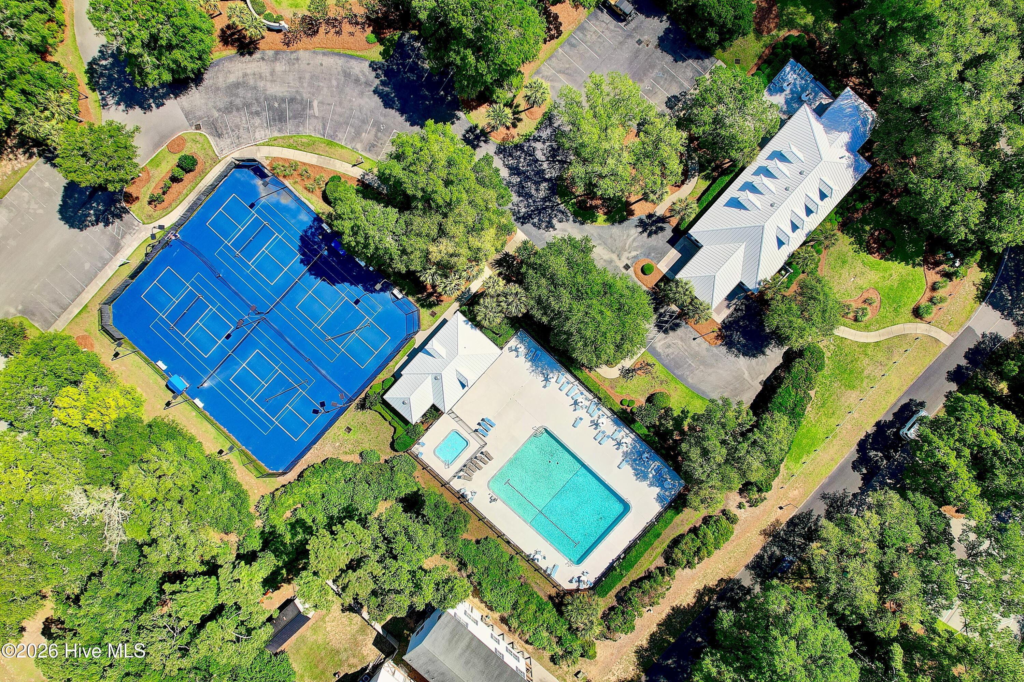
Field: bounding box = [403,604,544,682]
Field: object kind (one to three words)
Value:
house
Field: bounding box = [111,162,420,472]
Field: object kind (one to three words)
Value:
sports court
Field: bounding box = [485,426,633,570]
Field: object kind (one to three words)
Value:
swimming pool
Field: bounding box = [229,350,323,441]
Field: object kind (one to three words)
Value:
sports court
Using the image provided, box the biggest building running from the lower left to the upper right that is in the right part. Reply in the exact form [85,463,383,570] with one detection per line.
[672,86,882,311]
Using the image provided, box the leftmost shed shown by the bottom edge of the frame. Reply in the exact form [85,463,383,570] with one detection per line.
[271,601,316,649]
